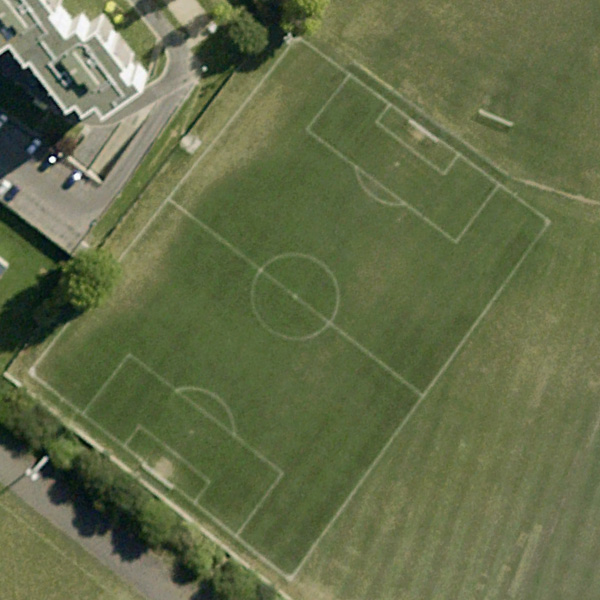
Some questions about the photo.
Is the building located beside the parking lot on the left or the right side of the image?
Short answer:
left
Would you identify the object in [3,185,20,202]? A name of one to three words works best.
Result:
car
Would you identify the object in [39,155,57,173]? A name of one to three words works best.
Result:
car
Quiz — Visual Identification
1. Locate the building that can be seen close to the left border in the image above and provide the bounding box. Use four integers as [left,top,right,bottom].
[0,0,154,120]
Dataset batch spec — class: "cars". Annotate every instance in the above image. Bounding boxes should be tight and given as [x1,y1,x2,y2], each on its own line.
[63,172,80,190]
[3,185,20,202]
[0,112,8,126]
[0,178,12,196]
[39,155,57,173]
